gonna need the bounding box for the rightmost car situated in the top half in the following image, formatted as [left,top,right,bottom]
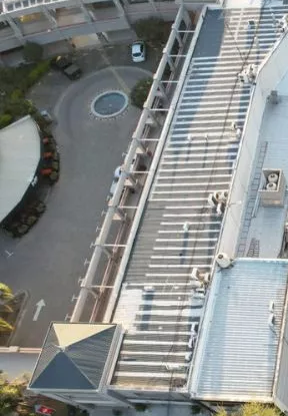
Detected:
[130,39,147,63]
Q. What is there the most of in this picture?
buildings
